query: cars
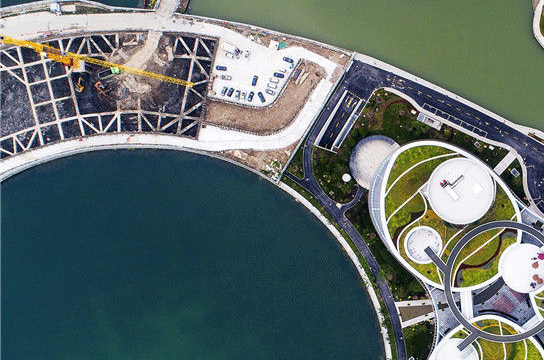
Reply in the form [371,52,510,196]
[220,75,231,81]
[265,88,276,96]
[270,76,281,83]
[282,57,294,63]
[277,65,289,73]
[241,90,248,101]
[247,90,255,102]
[258,91,266,103]
[235,88,242,100]
[227,86,234,99]
[252,75,259,87]
[221,84,229,97]
[273,71,285,78]
[267,82,279,89]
